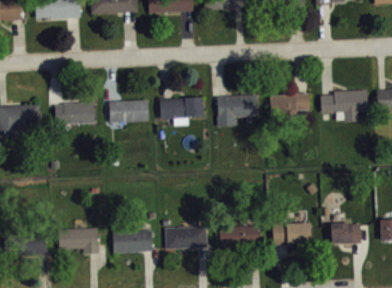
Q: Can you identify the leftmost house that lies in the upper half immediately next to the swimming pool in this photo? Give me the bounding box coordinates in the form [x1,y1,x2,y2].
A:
[160,96,205,126]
